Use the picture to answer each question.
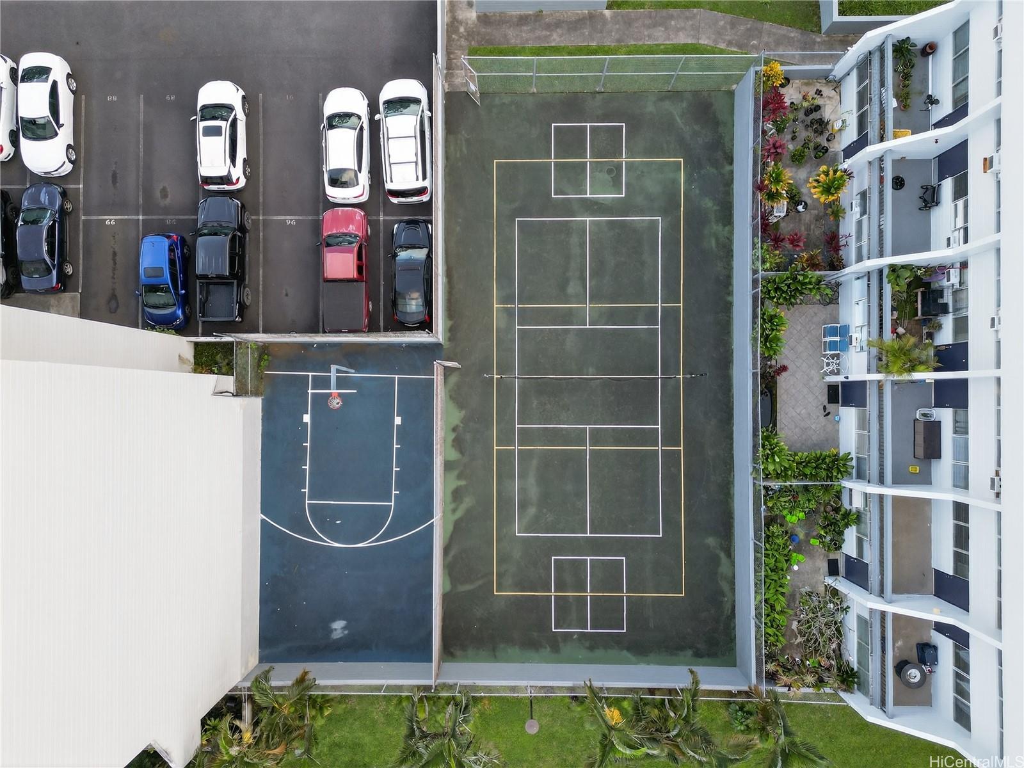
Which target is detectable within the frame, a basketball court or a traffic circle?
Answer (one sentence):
The one in the frame is a basketball court.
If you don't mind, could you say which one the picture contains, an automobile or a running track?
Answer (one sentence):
There is an automobile in the scene.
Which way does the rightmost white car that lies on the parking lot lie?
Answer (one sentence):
The rightmost white car that lies on the parking lot has been laid out up and down relative to the frame.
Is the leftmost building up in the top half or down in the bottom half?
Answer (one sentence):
Seen from above, the leftmost building lies in the bottom half of the view.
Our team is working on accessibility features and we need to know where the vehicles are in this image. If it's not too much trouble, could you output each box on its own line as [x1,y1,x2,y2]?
[317,87,371,206]
[189,197,253,322]
[190,81,250,193]
[12,183,74,295]
[12,53,78,177]
[0,55,21,165]
[0,192,21,302]
[375,79,430,205]
[315,208,372,332]
[135,233,192,332]
[383,219,434,328]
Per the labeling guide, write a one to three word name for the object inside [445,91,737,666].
sports court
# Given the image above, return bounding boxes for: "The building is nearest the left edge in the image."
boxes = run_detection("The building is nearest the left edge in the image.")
[0,309,259,768]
